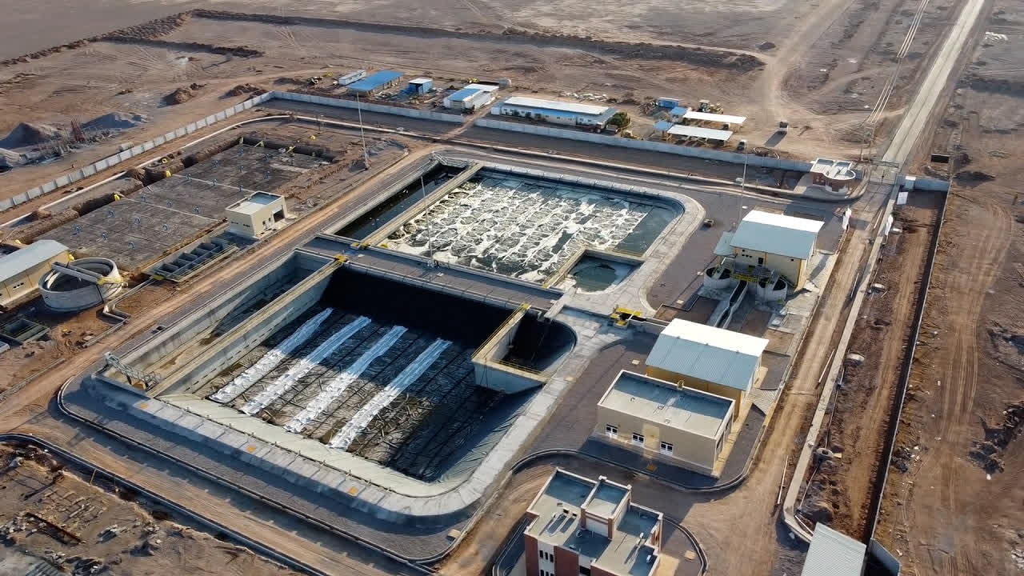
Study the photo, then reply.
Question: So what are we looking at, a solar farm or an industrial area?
industrial area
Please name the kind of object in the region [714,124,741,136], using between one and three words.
vehicle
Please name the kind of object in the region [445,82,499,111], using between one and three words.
building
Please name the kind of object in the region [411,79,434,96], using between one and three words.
shed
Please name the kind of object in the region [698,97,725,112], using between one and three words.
work vehicle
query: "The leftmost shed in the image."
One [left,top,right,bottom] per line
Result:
[0,236,71,313]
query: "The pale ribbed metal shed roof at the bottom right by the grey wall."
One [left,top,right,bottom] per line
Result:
[801,524,869,576]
